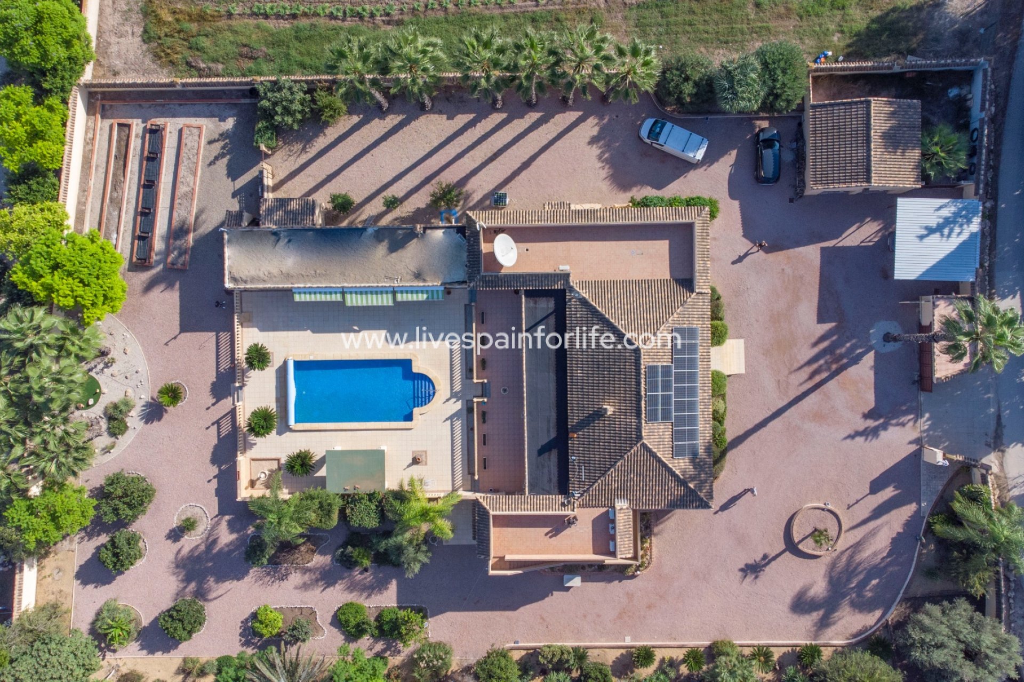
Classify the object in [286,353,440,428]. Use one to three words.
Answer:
swimming pool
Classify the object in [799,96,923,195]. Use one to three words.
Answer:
building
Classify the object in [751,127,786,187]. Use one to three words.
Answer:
car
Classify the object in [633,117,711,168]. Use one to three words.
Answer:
van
